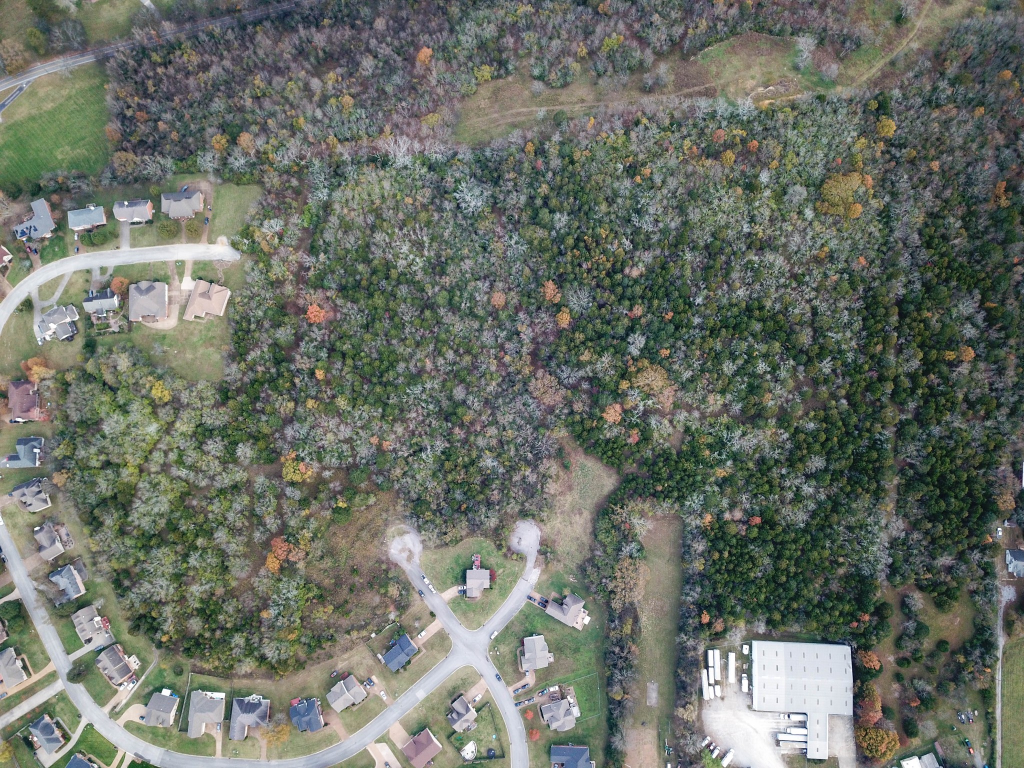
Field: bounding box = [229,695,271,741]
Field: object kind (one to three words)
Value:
house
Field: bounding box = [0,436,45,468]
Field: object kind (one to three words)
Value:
house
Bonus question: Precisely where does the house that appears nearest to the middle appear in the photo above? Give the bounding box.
[466,554,490,597]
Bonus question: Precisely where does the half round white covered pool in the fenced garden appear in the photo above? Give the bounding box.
[460,740,477,760]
